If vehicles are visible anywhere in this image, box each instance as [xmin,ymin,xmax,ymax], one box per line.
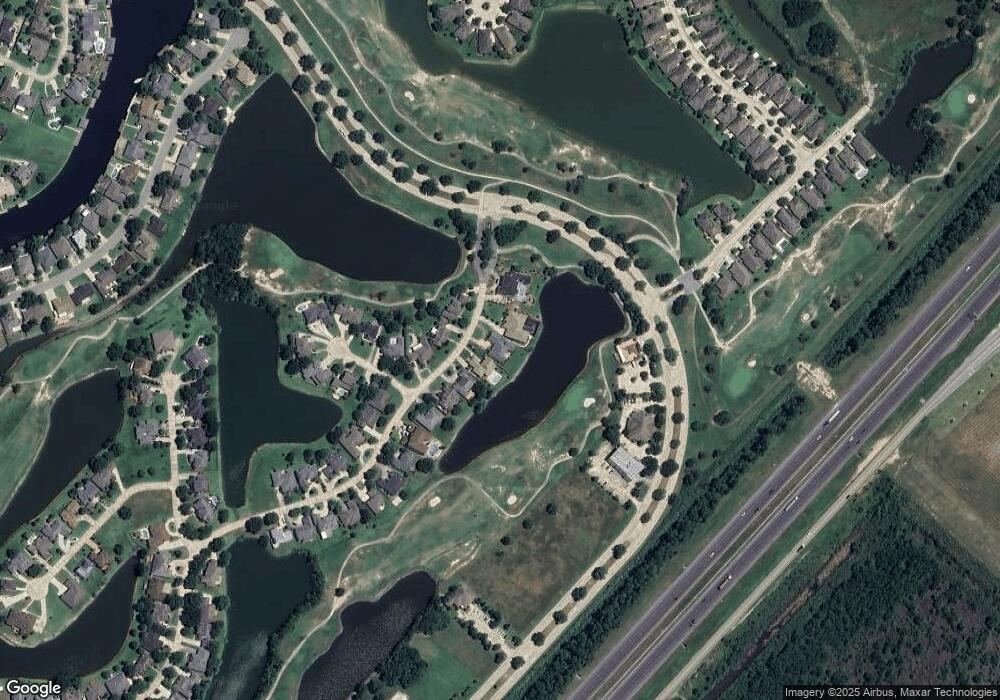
[827,411,840,424]
[786,497,798,510]
[719,576,731,590]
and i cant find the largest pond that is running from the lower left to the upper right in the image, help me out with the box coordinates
[867,37,974,171]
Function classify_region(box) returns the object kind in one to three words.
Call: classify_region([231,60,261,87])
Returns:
house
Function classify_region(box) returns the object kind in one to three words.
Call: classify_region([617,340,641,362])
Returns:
building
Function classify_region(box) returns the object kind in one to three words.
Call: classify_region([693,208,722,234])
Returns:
house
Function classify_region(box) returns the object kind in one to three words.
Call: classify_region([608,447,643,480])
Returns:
building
